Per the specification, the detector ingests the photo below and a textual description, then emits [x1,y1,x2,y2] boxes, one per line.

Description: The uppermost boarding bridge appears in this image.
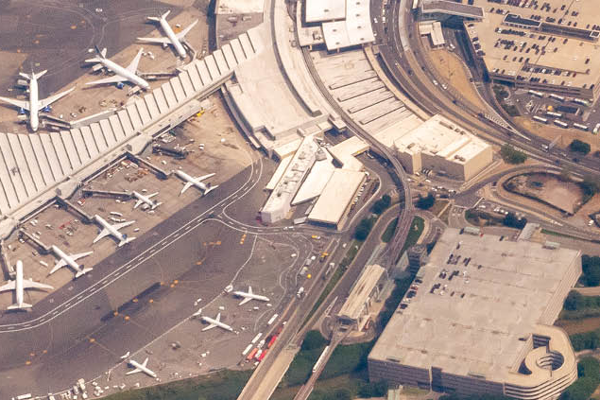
[179,37,196,62]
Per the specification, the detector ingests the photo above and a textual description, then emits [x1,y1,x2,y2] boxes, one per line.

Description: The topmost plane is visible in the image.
[131,3,203,56]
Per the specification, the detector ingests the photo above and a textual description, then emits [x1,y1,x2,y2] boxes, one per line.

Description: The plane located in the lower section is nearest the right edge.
[231,284,269,304]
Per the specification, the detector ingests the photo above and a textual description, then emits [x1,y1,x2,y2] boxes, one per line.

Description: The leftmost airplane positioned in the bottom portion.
[0,260,61,308]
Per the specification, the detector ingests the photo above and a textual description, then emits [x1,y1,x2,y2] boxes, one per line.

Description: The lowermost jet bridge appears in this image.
[2,242,16,281]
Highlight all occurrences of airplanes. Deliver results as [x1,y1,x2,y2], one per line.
[177,170,216,194]
[83,43,148,89]
[49,244,94,278]
[0,66,77,129]
[231,284,269,304]
[0,260,61,308]
[131,3,203,56]
[93,214,135,246]
[135,192,159,208]
[126,353,156,377]
[200,310,232,329]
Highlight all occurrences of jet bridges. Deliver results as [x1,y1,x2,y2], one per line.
[38,111,58,127]
[2,242,16,281]
[136,69,179,81]
[153,142,193,163]
[66,199,98,224]
[18,224,56,252]
[79,186,135,200]
[128,156,178,181]
[179,37,196,62]
[38,117,60,131]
